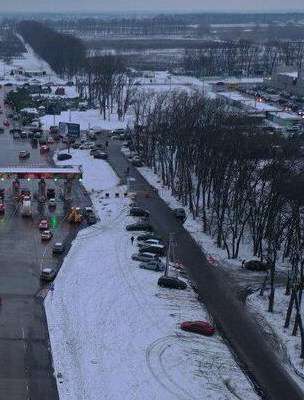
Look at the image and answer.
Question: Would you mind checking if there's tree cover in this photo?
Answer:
Yes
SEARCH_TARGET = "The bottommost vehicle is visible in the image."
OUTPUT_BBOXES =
[180,321,216,335]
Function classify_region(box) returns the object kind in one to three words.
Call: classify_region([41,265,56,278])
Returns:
vehicle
